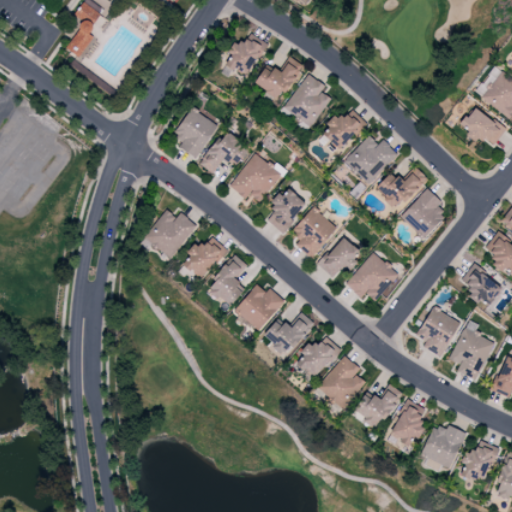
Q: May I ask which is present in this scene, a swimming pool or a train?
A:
swimming pool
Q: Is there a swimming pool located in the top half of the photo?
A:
Yes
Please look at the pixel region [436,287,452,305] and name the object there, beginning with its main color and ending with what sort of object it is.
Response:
blue swimming pool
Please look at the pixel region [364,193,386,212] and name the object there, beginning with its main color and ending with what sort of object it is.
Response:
blue swimming pool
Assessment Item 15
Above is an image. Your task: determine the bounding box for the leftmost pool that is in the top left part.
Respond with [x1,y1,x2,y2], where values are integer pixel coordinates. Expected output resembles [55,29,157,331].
[95,25,142,76]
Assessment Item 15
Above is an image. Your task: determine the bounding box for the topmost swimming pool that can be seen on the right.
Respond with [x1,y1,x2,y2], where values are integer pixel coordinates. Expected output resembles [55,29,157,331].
[310,144,330,162]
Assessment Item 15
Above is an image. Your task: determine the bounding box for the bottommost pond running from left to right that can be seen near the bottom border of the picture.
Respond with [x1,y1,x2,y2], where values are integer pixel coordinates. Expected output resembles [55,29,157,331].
[139,436,318,512]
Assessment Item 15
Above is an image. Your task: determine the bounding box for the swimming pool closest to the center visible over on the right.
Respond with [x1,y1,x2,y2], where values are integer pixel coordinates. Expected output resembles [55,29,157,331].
[330,198,350,218]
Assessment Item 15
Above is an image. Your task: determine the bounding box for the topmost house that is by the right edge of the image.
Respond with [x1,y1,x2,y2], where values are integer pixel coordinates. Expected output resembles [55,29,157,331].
[480,68,512,119]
